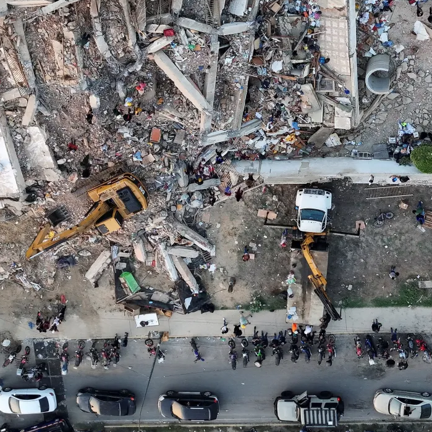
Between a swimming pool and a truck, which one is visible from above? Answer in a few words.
truck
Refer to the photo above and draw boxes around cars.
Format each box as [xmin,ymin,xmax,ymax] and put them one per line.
[276,387,344,430]
[373,389,432,420]
[78,390,138,420]
[159,393,220,424]
[0,389,59,419]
